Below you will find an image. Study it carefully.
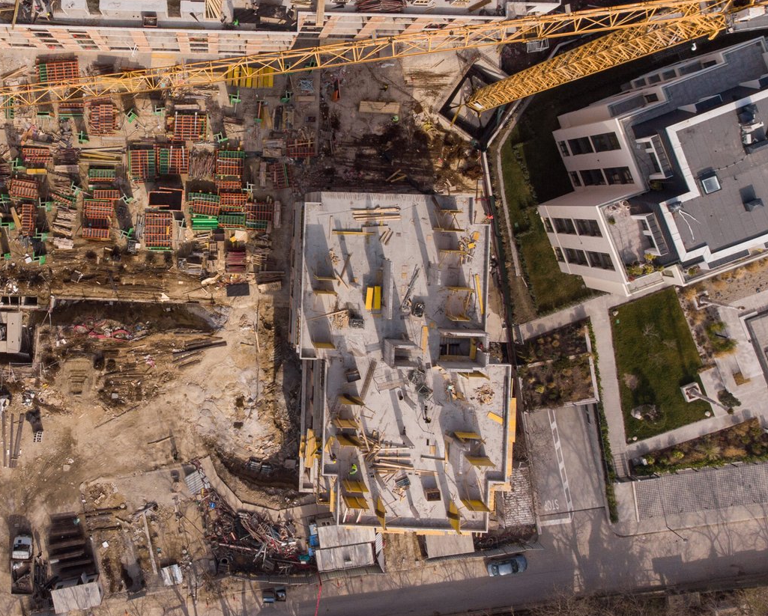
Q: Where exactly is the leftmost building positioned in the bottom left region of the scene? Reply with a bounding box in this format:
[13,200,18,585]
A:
[50,573,104,614]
